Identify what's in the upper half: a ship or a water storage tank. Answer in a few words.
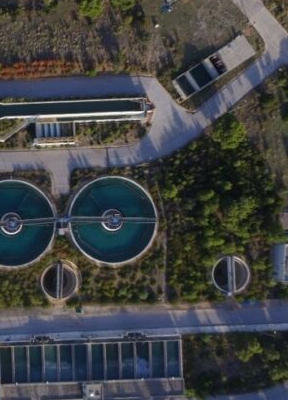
water storage tank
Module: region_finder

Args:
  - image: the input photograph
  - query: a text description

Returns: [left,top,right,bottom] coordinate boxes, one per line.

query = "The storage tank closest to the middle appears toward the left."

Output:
[65,174,158,267]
